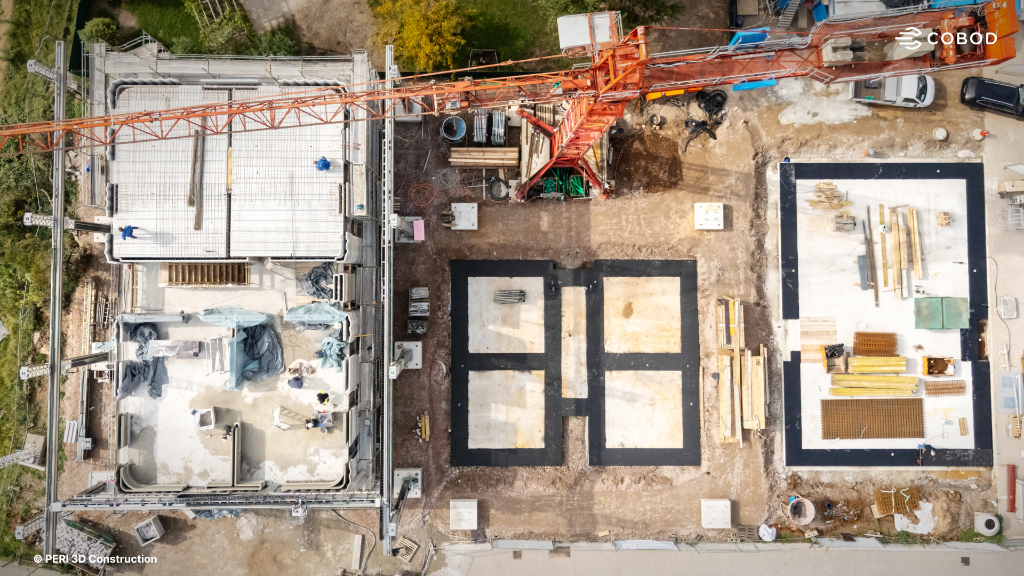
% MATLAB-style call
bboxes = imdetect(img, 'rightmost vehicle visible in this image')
[960,75,1024,125]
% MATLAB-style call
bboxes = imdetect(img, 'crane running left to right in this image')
[0,0,1002,203]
